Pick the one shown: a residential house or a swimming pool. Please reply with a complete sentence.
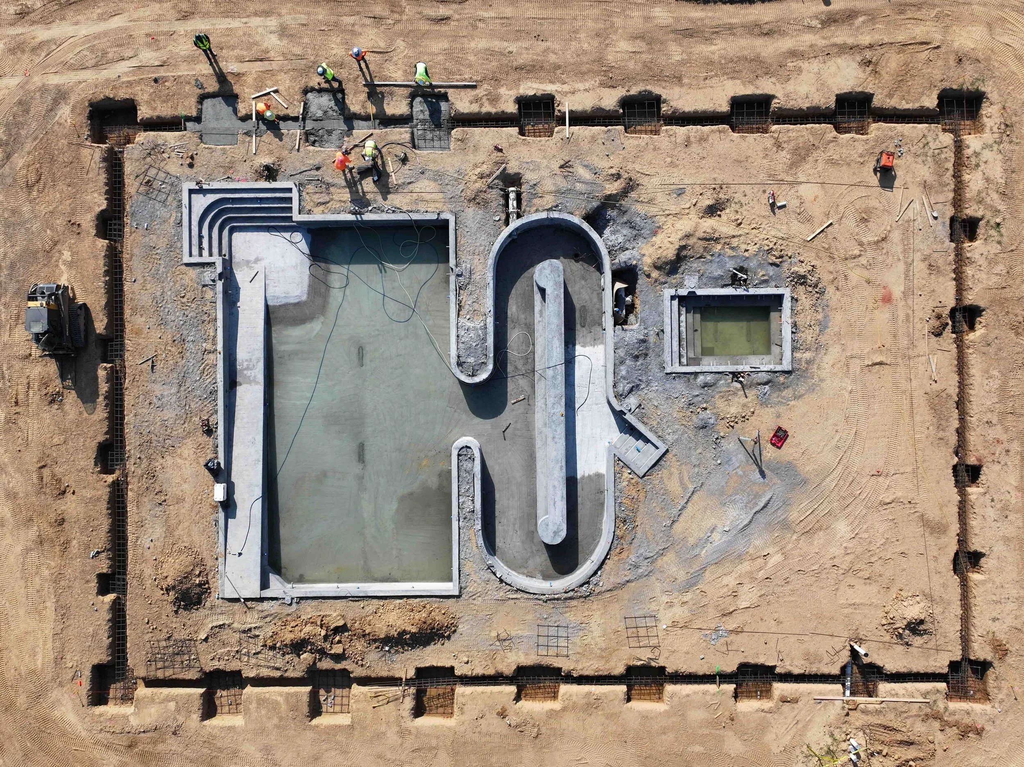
This aerial view contains a swimming pool.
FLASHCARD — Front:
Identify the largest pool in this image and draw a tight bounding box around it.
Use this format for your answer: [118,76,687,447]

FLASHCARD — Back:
[182,182,669,597]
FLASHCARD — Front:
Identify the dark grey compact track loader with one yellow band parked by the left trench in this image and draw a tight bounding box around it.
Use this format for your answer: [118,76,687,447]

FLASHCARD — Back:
[21,283,92,358]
